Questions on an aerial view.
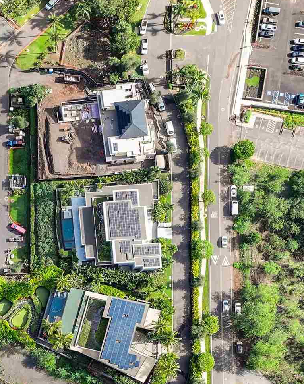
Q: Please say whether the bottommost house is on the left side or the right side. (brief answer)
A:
left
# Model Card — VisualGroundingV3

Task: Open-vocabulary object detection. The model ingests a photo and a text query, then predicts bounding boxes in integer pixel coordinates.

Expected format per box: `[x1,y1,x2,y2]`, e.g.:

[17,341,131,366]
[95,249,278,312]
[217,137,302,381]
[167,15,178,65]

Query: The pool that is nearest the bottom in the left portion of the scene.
[49,292,68,322]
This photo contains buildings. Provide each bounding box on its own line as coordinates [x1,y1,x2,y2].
[38,289,161,384]
[72,180,162,270]
[98,81,156,163]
